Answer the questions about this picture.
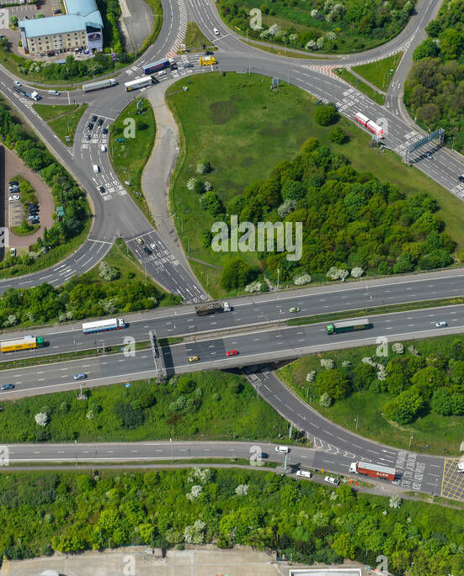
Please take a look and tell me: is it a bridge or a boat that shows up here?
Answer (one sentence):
Visible in the photo is a bridge.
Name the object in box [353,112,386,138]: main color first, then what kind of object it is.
white truck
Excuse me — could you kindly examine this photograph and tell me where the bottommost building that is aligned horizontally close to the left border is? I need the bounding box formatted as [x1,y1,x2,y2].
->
[17,11,105,55]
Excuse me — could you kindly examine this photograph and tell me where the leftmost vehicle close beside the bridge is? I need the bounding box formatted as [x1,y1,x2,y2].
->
[82,318,125,333]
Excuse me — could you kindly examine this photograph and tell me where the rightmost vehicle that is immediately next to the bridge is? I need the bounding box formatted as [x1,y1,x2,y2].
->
[327,320,369,334]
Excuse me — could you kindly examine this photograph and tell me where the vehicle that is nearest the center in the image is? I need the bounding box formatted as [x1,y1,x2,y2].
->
[195,303,232,316]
